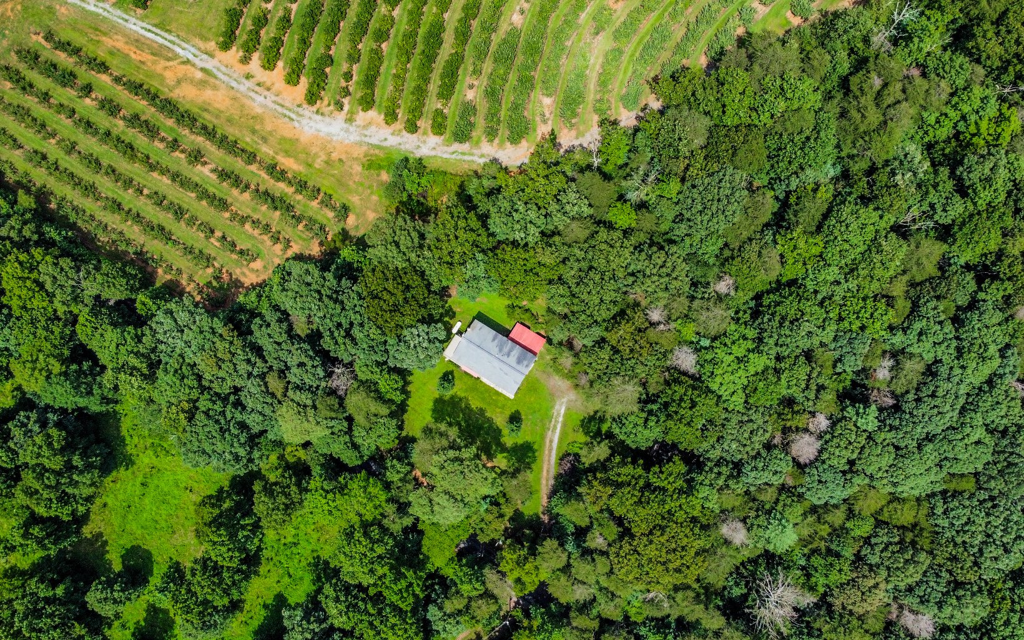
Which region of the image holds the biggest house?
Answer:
center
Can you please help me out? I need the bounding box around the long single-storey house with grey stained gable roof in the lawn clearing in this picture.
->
[444,320,537,399]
